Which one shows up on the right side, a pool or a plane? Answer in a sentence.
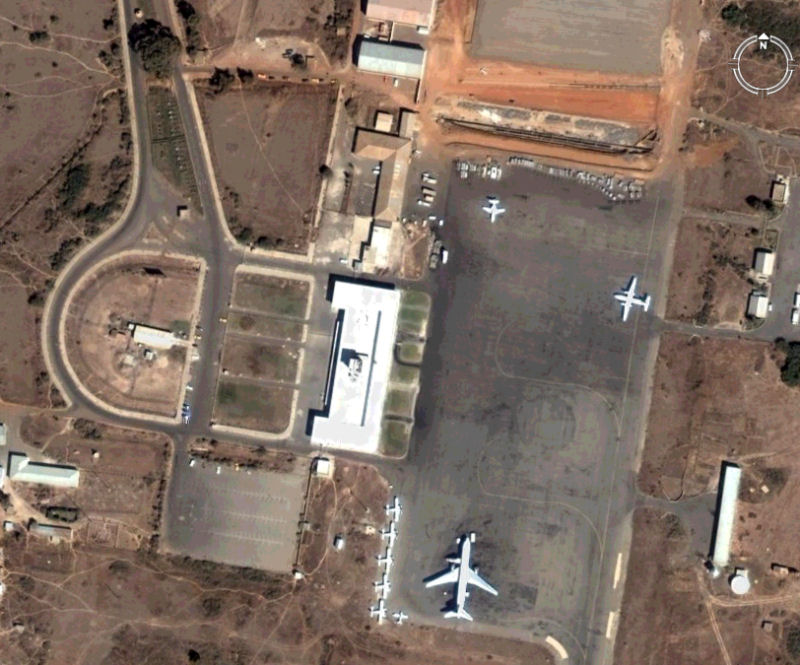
What appears on the right side is a plane.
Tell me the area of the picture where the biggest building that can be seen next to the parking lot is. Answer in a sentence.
Look in the center portion of the view to spot the biggest building that can be seen next to the parking lot.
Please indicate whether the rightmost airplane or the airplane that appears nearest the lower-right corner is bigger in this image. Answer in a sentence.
The airplane that appears nearest the lower-right corner is bigger than the rightmost airplane.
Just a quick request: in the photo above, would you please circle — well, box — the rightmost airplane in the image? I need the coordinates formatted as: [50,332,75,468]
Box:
[615,277,652,321]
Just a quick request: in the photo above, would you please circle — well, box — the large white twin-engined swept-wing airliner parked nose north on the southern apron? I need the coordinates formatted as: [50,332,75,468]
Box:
[427,536,498,620]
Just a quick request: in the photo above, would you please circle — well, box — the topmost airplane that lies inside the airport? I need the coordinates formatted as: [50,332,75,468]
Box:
[482,198,505,223]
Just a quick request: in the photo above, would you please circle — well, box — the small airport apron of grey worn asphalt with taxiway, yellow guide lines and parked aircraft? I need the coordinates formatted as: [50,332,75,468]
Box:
[376,148,800,665]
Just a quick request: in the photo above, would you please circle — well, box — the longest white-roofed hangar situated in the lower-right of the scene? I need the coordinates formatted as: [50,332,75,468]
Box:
[712,467,744,567]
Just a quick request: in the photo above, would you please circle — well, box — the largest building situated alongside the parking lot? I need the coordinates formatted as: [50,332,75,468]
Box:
[311,281,400,453]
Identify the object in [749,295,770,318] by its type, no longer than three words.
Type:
shed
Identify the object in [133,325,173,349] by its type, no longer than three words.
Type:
building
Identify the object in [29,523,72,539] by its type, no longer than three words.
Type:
shed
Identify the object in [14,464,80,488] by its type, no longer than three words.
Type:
house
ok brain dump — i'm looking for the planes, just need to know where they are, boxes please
[379,548,395,571]
[615,277,652,321]
[371,601,387,624]
[382,523,398,547]
[427,536,498,620]
[393,611,405,624]
[376,574,391,598]
[387,499,402,522]
[482,198,505,223]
